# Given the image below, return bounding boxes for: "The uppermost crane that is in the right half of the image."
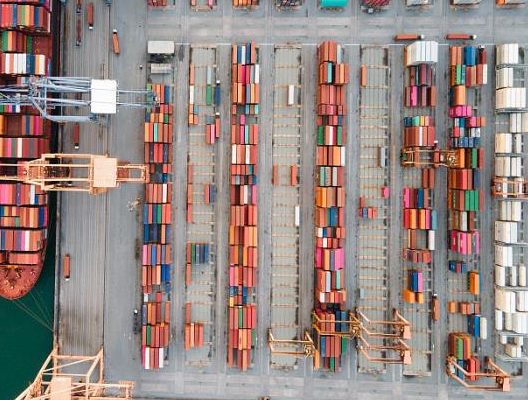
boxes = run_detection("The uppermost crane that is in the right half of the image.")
[403,148,462,168]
